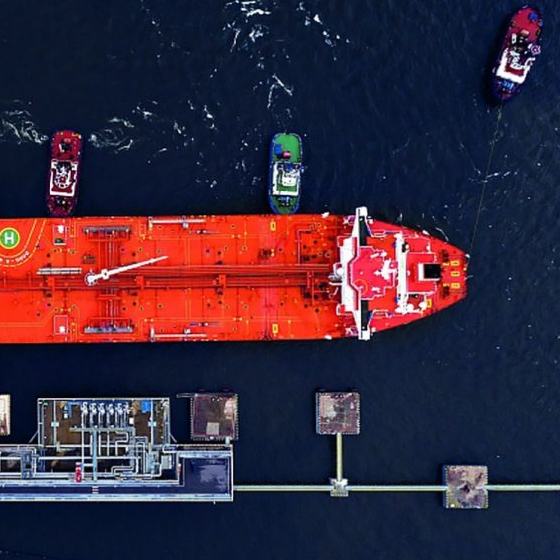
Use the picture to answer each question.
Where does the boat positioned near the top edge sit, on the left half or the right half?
right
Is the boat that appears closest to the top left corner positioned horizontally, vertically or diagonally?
vertically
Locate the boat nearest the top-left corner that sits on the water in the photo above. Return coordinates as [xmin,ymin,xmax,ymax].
[47,130,84,217]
